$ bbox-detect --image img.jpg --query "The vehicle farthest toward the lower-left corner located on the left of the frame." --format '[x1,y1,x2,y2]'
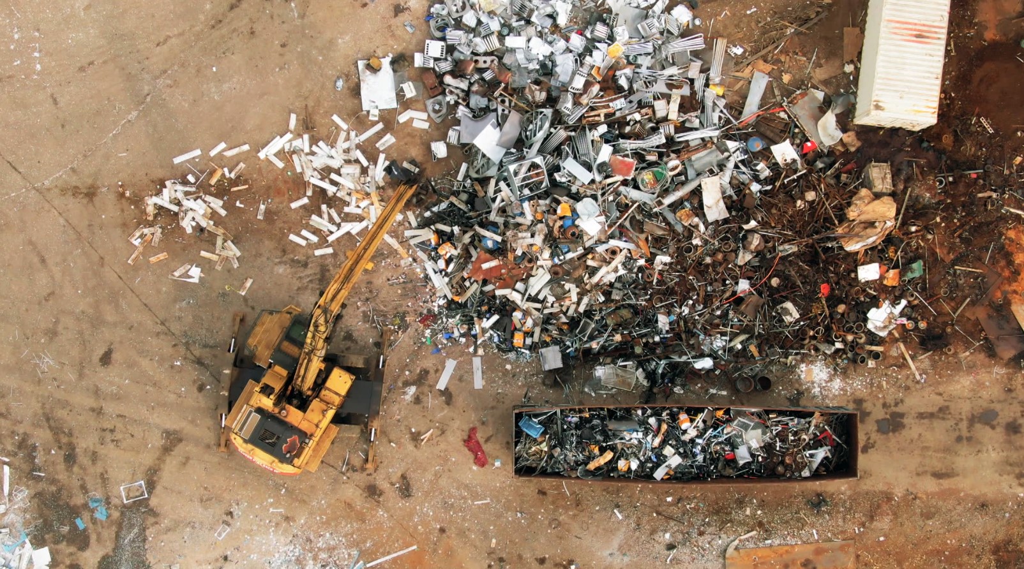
[218,153,426,476]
